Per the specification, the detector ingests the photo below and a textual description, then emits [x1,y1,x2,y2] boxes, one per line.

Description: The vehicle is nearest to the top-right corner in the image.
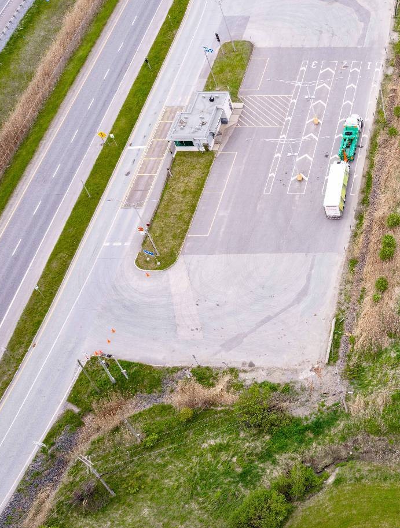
[340,116,361,168]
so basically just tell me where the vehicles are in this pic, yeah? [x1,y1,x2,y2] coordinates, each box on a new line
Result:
[325,163,348,218]
[340,116,361,168]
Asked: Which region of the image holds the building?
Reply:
top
